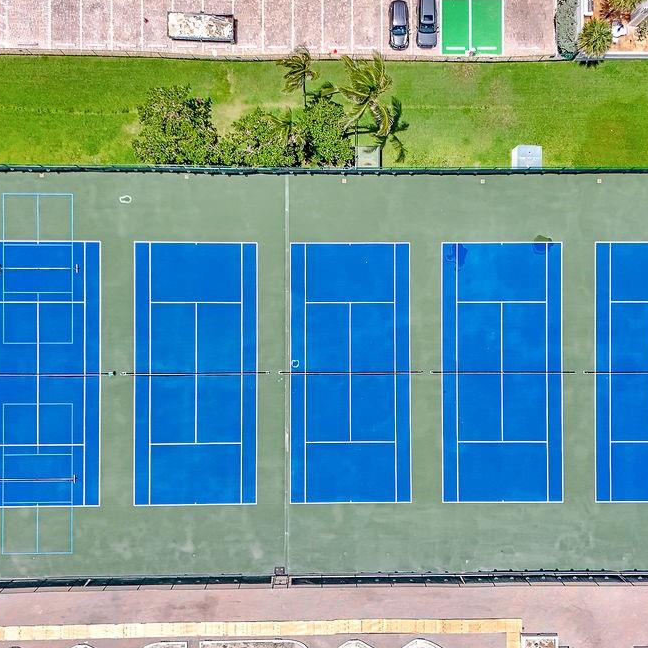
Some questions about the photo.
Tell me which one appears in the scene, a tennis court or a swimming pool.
tennis court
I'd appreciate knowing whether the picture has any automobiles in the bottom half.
No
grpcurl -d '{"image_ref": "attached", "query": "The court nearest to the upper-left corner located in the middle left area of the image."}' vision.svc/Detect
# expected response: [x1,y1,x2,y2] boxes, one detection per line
[2,194,73,343]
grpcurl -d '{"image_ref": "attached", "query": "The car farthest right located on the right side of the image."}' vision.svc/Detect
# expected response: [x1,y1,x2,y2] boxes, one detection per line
[416,0,440,49]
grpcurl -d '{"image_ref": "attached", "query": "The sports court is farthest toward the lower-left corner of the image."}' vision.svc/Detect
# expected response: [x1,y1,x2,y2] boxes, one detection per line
[2,404,73,553]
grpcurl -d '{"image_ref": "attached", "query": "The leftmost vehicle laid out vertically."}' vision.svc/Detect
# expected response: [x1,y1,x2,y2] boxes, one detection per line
[388,0,411,51]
